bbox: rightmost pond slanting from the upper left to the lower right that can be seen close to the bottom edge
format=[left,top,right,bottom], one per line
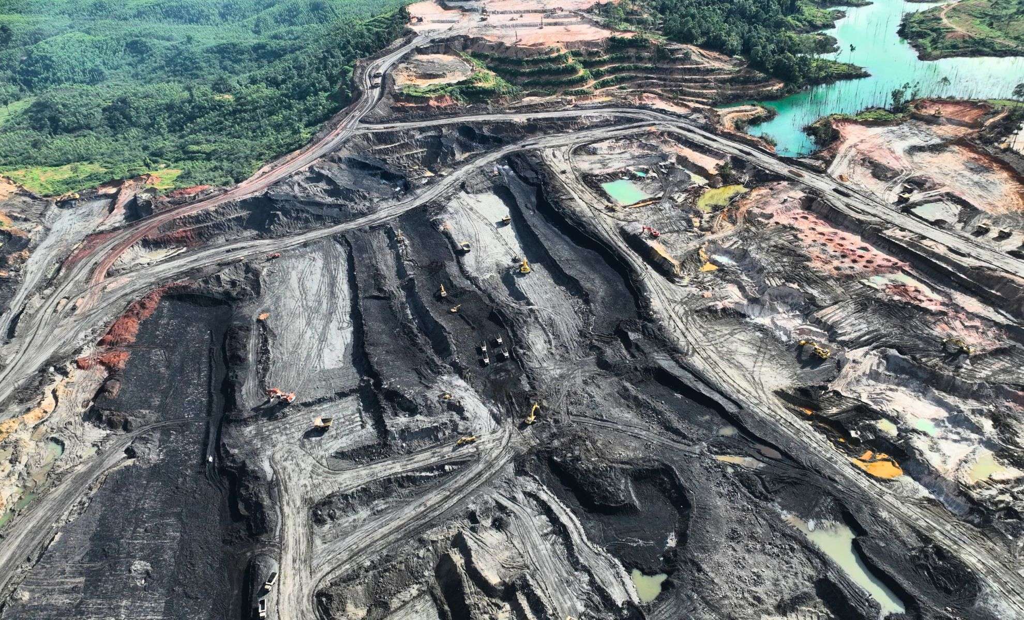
[784,518,907,620]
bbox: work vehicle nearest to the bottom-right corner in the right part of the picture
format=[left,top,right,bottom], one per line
[940,332,981,355]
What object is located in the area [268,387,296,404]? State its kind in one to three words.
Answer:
work vehicle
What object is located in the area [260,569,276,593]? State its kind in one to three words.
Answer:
vehicle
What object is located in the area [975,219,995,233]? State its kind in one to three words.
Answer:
vehicle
